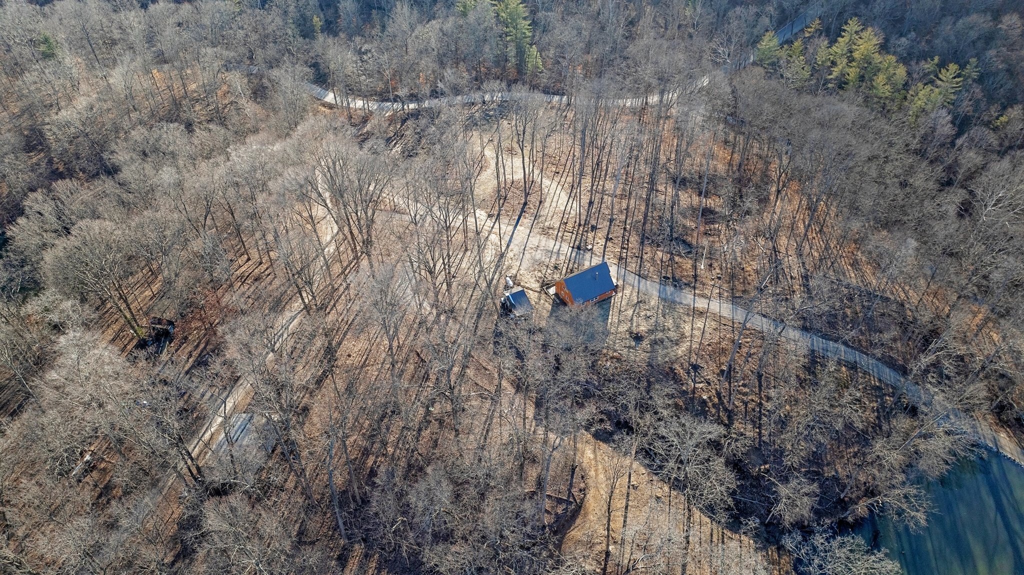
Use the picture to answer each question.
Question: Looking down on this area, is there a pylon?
No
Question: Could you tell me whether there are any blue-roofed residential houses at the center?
Yes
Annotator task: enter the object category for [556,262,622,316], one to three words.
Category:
house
